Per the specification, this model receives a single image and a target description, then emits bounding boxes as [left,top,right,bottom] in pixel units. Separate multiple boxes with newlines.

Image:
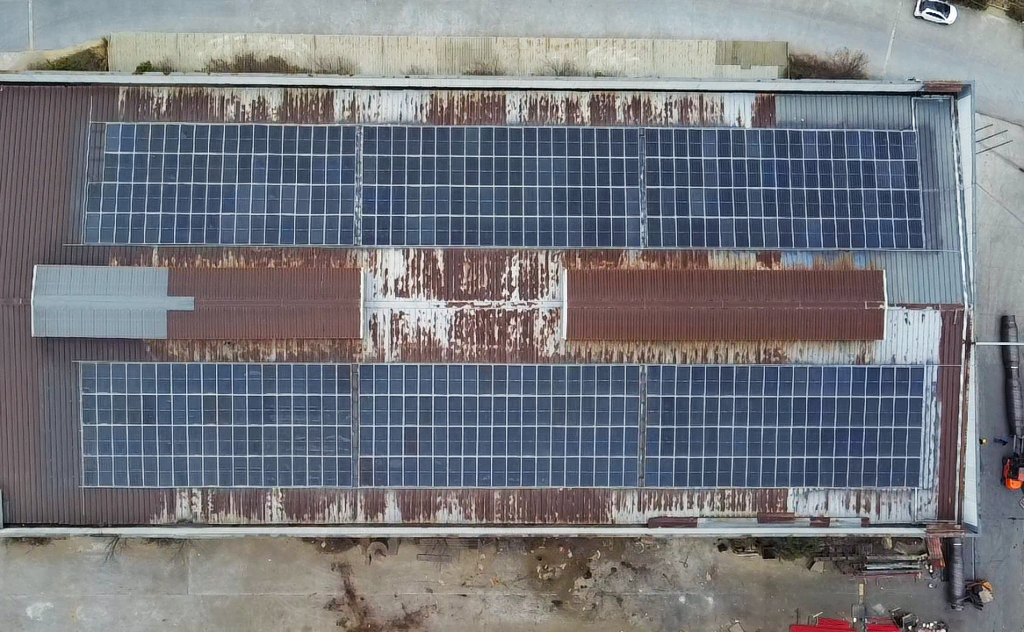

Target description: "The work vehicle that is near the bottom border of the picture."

[965,582,996,613]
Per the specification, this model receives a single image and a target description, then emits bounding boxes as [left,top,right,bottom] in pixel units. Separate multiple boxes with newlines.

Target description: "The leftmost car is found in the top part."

[915,0,959,24]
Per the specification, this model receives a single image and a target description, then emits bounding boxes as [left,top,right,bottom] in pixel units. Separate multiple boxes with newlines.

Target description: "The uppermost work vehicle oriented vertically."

[1003,443,1024,489]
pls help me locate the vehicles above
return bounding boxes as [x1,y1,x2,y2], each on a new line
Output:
[1003,443,1024,489]
[915,0,959,24]
[965,582,996,613]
